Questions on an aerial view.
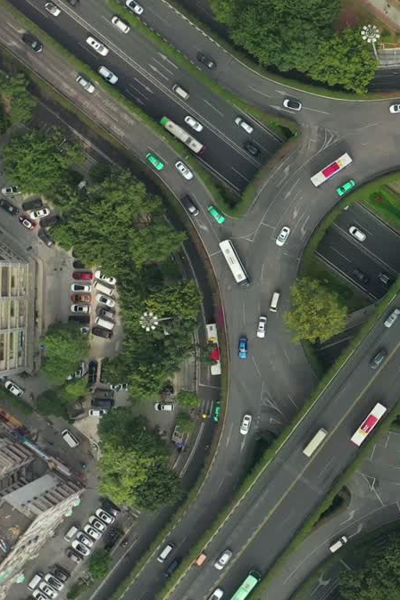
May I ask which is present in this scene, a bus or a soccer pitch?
bus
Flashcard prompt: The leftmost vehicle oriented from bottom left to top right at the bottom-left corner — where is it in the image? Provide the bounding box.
[23,572,42,594]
